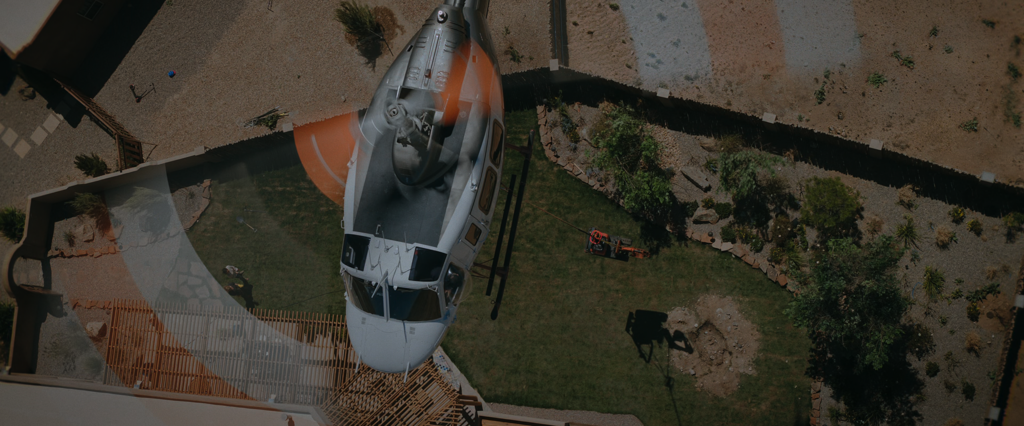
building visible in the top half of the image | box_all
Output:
[0,0,136,82]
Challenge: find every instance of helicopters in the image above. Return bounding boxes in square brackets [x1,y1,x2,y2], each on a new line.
[0,0,755,375]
